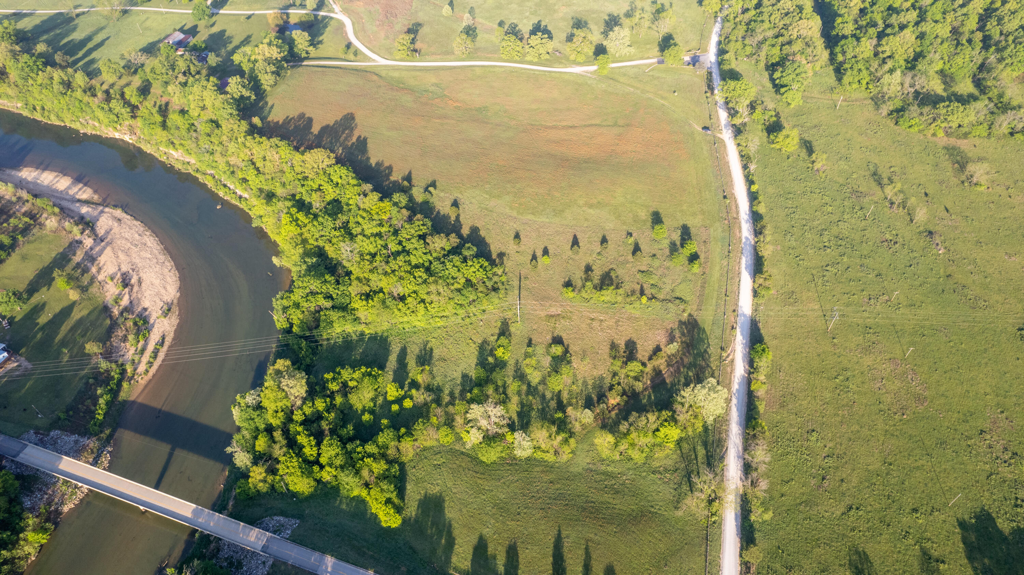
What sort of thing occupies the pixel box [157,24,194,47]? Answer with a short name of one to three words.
barn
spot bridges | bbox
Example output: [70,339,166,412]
[5,440,279,558]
